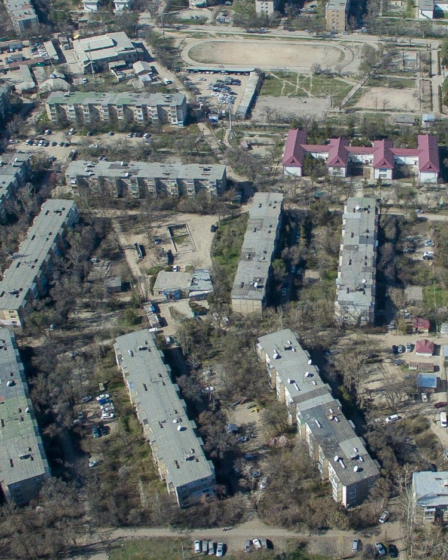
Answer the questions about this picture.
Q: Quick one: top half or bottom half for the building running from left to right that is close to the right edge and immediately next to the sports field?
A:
top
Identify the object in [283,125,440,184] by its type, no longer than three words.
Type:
building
